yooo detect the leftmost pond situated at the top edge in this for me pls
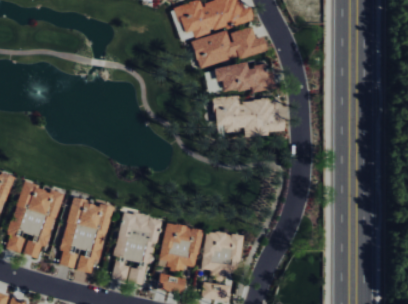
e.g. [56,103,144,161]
[0,0,114,67]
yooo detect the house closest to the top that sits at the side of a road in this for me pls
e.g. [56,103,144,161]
[174,0,254,38]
